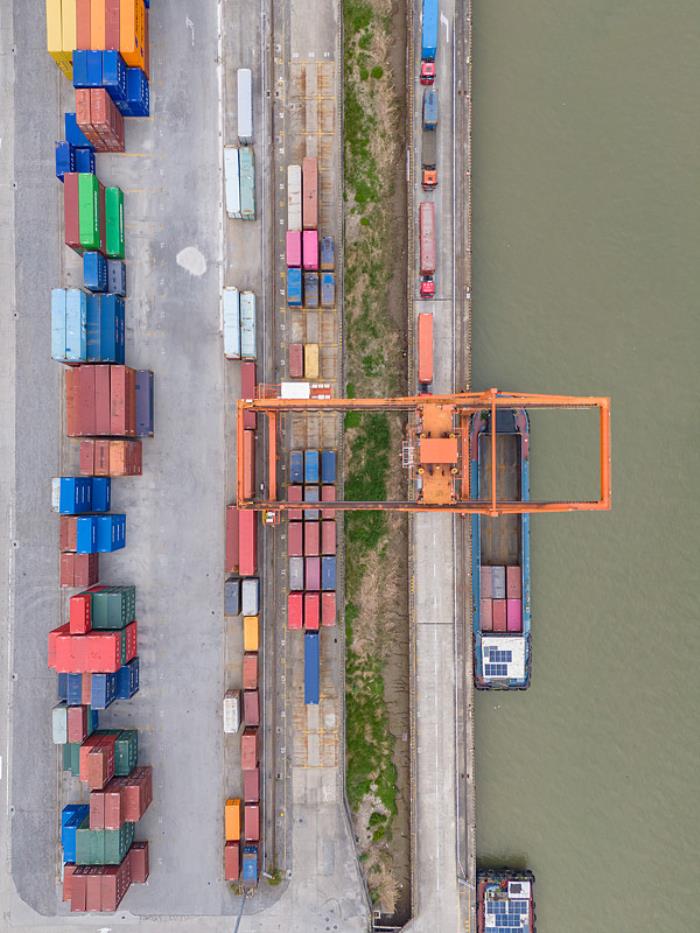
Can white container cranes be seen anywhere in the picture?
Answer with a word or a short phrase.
No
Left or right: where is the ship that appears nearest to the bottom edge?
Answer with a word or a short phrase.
right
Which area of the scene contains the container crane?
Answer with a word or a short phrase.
center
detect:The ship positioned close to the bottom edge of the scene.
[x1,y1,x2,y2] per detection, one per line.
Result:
[476,865,537,933]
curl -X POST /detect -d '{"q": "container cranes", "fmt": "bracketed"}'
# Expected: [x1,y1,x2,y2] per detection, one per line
[239,383,610,538]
